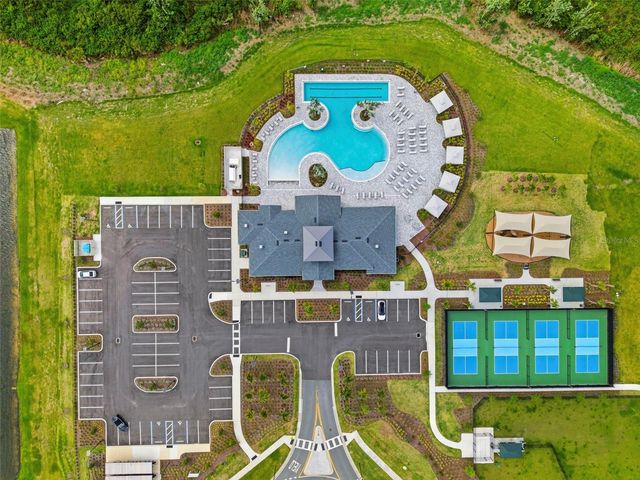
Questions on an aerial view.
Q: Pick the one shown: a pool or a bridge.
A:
pool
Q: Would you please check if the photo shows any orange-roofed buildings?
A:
No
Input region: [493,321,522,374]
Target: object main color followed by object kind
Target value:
blue sports court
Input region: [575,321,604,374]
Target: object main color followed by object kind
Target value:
blue sports court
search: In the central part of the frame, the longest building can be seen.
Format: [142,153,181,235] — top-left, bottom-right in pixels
[238,194,396,281]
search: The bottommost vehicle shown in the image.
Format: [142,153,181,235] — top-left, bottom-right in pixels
[112,414,129,432]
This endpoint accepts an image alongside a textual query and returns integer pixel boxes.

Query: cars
[78,270,98,279]
[112,414,129,432]
[378,301,386,320]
